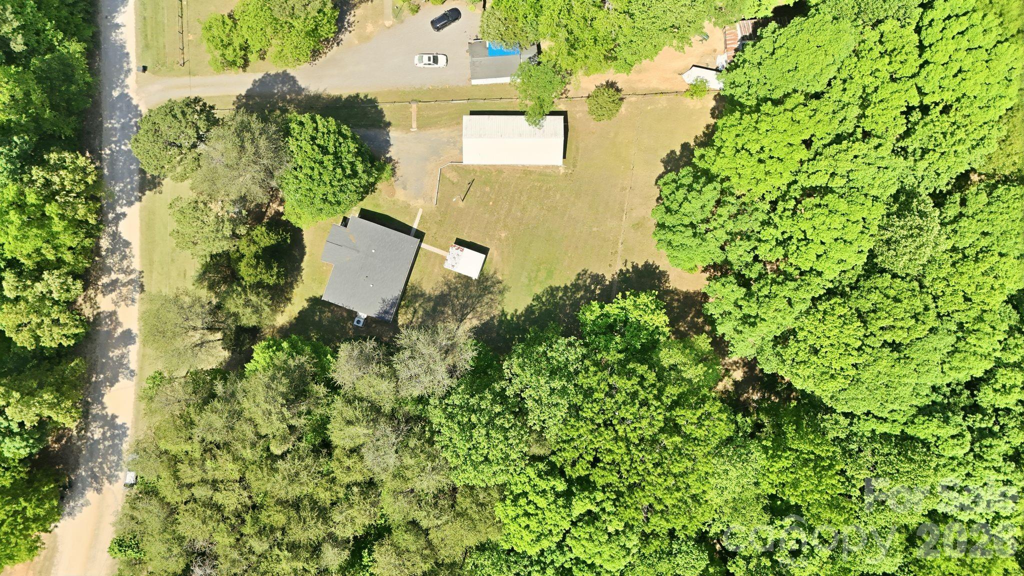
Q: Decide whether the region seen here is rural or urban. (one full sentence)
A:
The land in this view is best described as rural.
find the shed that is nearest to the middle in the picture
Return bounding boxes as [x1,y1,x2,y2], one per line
[445,244,485,279]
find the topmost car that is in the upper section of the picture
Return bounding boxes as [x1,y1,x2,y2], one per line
[430,9,461,32]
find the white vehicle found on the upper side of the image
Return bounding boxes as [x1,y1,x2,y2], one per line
[415,53,448,68]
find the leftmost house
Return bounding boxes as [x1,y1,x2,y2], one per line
[320,215,420,323]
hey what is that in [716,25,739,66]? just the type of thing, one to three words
shed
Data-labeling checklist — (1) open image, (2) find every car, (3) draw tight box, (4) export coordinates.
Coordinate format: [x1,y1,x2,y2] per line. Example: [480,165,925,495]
[415,53,448,68]
[122,458,140,489]
[430,9,461,32]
